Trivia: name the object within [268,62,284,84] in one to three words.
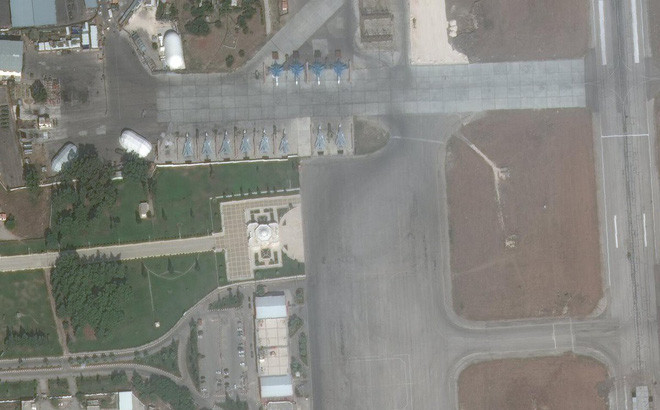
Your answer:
airplane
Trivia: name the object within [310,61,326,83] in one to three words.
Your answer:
airplane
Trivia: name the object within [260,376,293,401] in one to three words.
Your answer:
building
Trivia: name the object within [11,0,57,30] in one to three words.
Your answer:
hangar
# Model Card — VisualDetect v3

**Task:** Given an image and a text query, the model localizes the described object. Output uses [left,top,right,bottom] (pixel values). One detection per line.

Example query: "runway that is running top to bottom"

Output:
[586,0,660,410]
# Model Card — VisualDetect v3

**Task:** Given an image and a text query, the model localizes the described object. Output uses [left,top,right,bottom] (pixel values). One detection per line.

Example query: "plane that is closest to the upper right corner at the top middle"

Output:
[331,60,346,82]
